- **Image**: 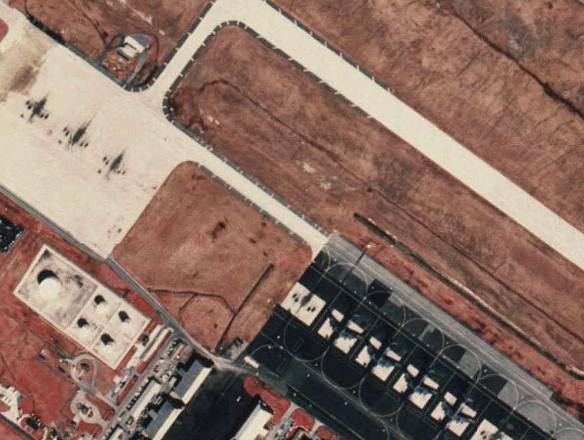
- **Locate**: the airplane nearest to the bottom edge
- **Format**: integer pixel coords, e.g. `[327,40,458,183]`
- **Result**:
[437,391,473,429]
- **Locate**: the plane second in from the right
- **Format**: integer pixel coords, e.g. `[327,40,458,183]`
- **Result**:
[400,363,436,402]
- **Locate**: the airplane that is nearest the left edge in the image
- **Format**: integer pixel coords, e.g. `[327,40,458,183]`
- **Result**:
[325,308,361,347]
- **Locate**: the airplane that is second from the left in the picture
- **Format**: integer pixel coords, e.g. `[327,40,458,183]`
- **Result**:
[362,336,399,374]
